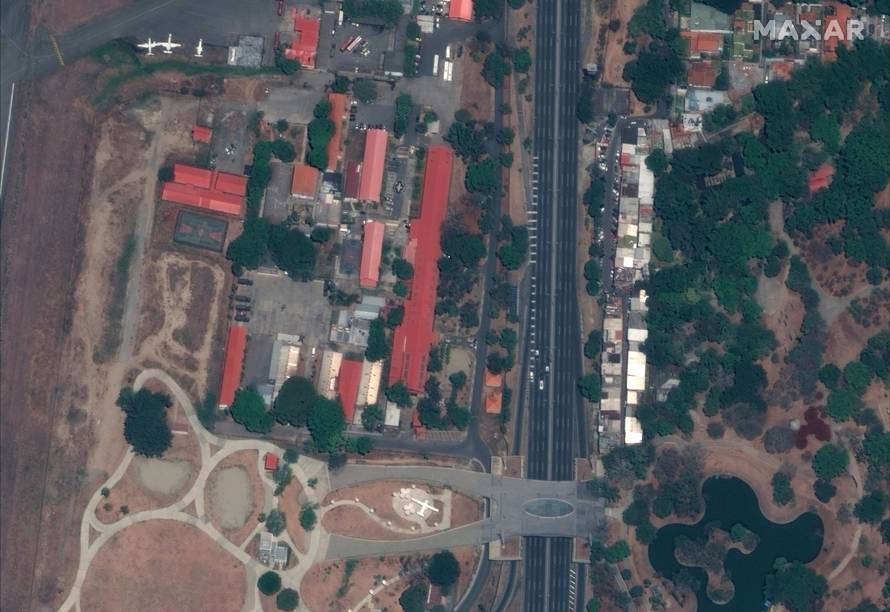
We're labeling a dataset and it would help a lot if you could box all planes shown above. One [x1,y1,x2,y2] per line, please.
[140,38,159,53]
[410,498,440,515]
[156,34,181,52]
[196,39,203,56]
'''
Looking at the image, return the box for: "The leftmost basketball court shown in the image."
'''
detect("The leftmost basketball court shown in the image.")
[174,208,229,252]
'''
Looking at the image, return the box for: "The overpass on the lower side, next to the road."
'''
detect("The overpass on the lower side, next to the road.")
[471,457,606,562]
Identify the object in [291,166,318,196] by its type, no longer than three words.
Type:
house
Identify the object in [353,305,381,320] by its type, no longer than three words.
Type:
building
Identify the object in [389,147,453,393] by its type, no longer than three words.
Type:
building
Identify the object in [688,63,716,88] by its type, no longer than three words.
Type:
house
